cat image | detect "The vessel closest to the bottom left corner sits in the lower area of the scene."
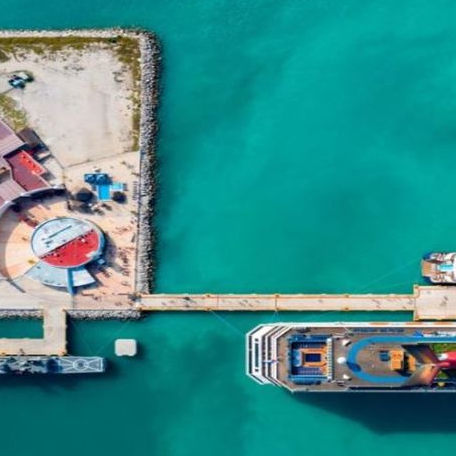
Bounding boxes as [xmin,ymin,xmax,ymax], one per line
[0,356,105,375]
